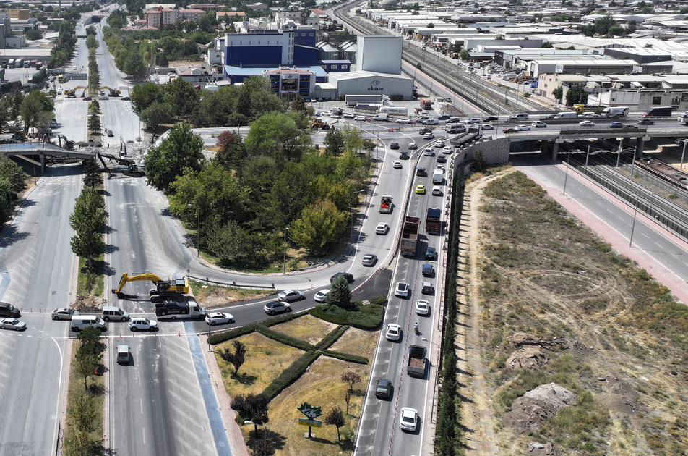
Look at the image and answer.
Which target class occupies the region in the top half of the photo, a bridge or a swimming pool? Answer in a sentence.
Visible in the top half of the photo is a bridge.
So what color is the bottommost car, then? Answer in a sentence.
The bottommost car is white.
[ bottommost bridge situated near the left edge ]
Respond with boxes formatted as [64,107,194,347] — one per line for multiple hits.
[0,140,92,174]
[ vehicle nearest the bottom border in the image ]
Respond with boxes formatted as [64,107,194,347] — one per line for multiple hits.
[399,407,420,433]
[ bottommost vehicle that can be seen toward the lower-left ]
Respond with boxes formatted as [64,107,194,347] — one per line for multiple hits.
[114,345,132,365]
